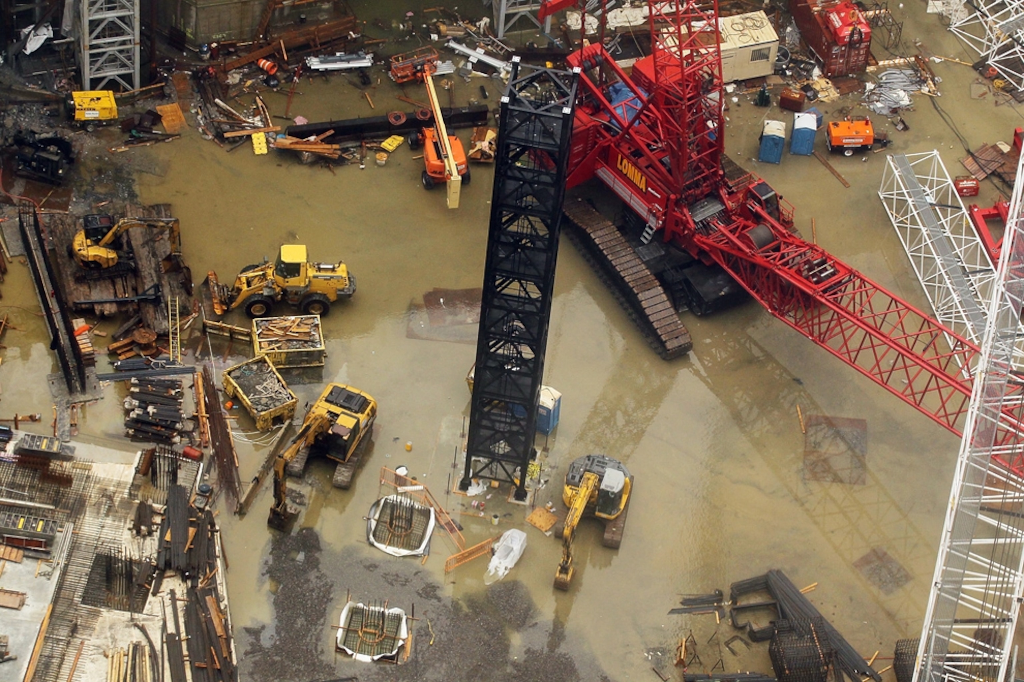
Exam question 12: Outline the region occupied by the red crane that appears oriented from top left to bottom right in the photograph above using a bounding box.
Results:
[530,0,1024,478]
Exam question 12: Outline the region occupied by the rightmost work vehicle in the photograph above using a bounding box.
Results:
[550,442,637,586]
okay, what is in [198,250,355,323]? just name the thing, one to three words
work vehicle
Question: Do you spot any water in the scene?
Yes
